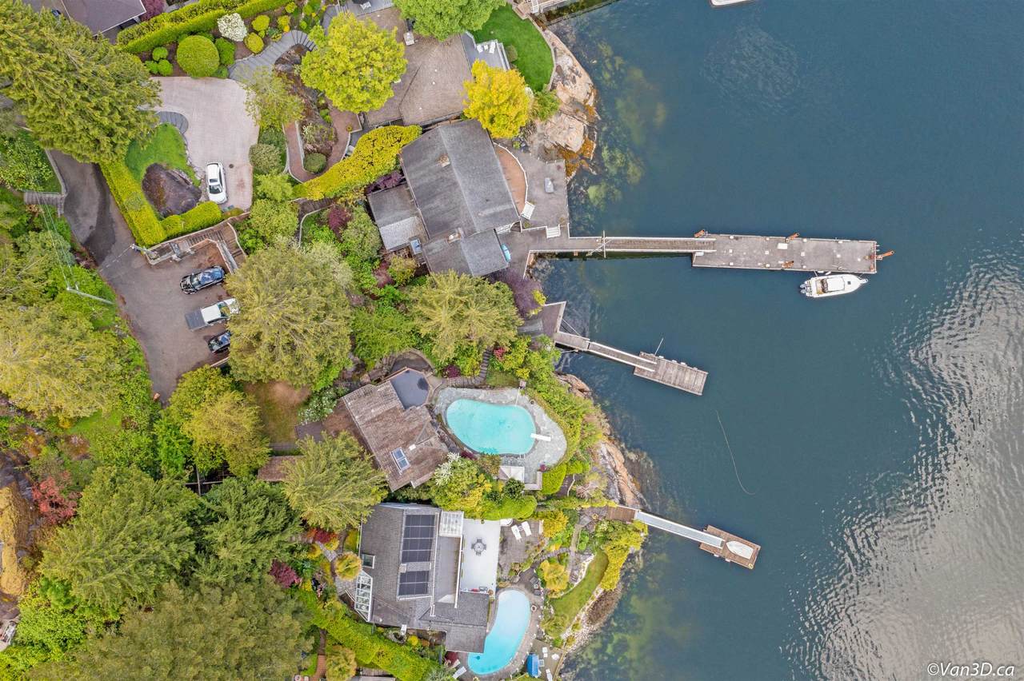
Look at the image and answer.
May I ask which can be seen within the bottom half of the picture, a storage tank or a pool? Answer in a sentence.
What appears within the bottom half of the picture is a pool.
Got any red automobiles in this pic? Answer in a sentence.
No, there appears to be no red automobile in this shot.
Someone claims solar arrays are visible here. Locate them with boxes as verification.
[401,515,436,563]
[398,571,430,597]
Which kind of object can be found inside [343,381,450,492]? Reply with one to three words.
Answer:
house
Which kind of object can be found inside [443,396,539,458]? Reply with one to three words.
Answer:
swimming pool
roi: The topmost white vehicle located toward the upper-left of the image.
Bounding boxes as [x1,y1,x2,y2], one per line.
[205,161,232,205]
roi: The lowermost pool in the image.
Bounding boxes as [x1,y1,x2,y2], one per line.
[465,586,534,679]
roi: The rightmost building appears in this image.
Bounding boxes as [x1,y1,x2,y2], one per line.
[499,465,524,482]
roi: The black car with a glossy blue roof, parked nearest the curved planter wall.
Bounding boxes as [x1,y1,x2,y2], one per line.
[180,266,229,294]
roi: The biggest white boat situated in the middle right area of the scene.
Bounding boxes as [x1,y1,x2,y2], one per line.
[796,276,871,299]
